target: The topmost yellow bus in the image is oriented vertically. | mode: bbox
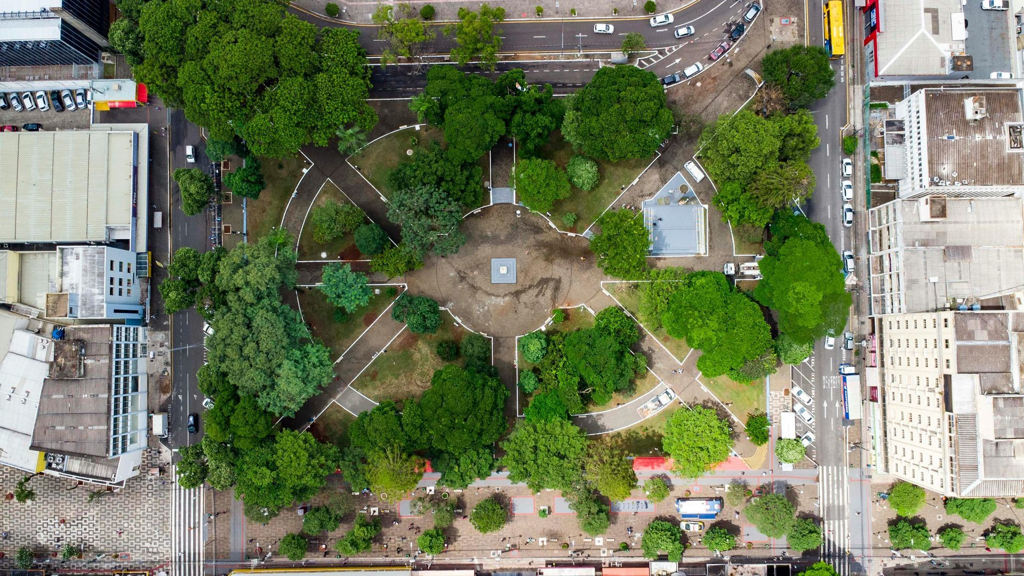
[825,0,845,60]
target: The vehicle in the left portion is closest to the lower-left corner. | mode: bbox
[149,411,166,440]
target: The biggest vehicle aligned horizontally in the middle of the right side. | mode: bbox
[724,261,765,278]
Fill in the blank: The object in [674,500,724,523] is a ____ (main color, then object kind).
white bus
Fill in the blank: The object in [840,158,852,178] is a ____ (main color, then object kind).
white vehicle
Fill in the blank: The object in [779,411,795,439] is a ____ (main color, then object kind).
white tent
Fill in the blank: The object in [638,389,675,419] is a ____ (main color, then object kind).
white truck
